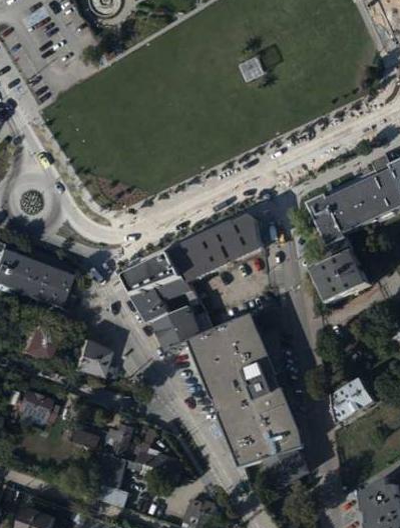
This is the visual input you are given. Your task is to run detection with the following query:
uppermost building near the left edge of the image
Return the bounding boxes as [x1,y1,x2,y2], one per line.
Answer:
[0,244,78,309]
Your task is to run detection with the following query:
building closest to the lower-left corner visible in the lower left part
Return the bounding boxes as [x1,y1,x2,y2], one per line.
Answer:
[13,506,57,528]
